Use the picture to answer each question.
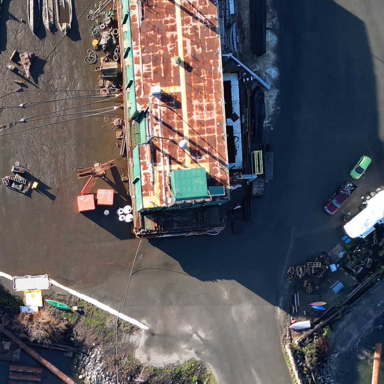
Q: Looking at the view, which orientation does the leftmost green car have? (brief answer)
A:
at an angle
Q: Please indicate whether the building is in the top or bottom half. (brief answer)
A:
top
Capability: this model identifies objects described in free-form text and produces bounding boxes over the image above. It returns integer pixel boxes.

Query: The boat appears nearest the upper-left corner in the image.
[0,176,31,195]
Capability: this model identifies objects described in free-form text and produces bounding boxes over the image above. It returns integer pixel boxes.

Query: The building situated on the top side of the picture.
[113,0,259,242]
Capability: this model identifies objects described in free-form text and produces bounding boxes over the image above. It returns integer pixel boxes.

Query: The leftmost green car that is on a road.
[349,153,373,180]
